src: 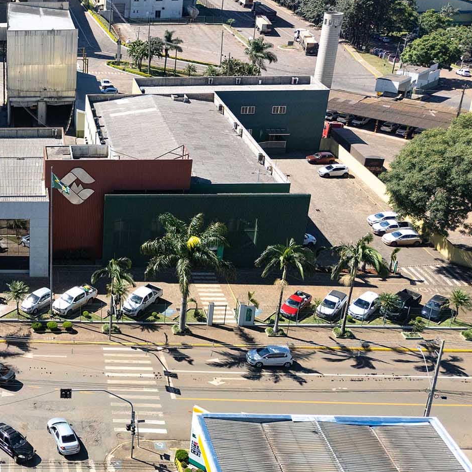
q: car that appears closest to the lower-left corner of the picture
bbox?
[0,414,36,460]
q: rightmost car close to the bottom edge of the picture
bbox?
[46,409,86,453]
